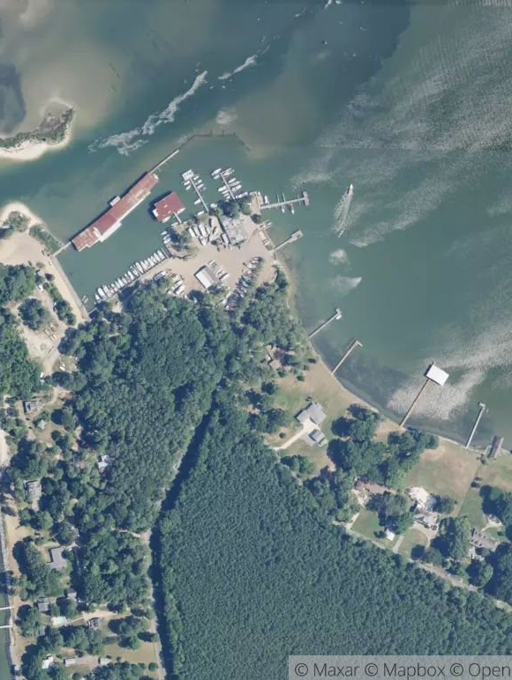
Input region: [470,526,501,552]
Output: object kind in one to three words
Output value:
house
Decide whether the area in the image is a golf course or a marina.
marina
